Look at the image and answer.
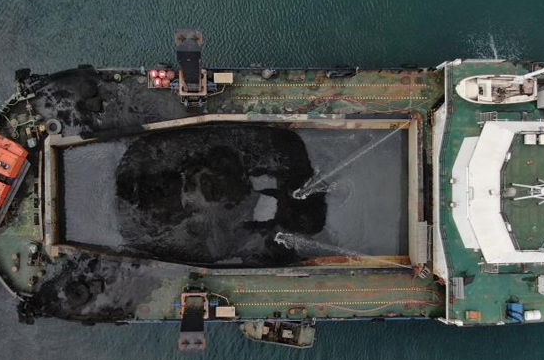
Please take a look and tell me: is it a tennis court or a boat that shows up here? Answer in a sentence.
There is a boat in the scene.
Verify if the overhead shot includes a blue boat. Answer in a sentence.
No, the photo shows no blue boat.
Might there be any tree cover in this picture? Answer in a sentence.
No, there's no tree cover in this view.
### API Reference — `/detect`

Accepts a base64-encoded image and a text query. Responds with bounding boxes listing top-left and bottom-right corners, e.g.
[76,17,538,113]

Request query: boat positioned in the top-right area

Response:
[456,75,538,104]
